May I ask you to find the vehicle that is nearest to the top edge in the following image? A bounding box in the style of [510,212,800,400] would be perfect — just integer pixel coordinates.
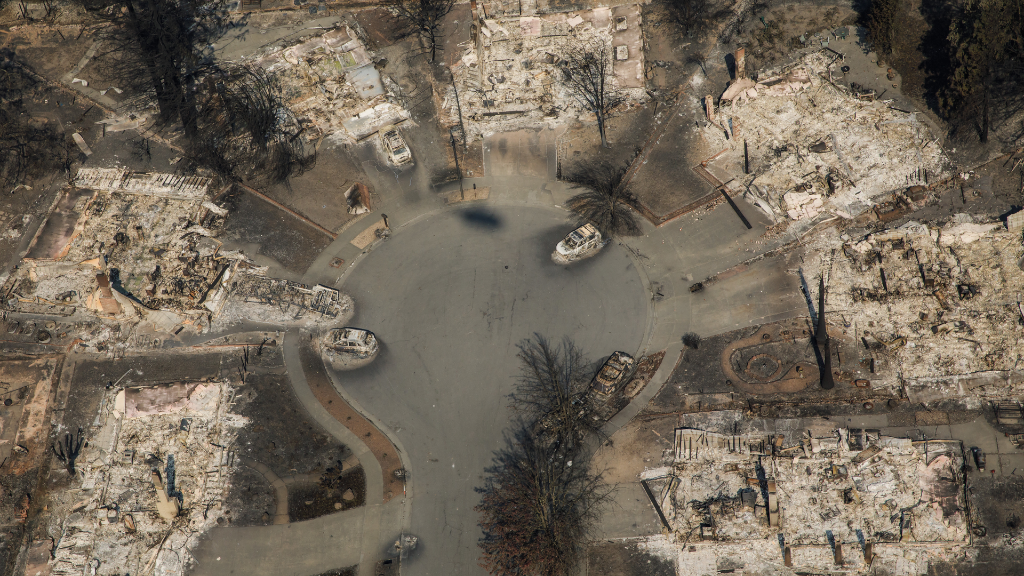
[377,124,416,173]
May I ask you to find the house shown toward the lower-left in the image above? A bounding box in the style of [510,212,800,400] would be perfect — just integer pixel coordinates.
[37,372,263,576]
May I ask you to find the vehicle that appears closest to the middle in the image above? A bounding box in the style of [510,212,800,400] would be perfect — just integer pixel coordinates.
[548,220,611,266]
